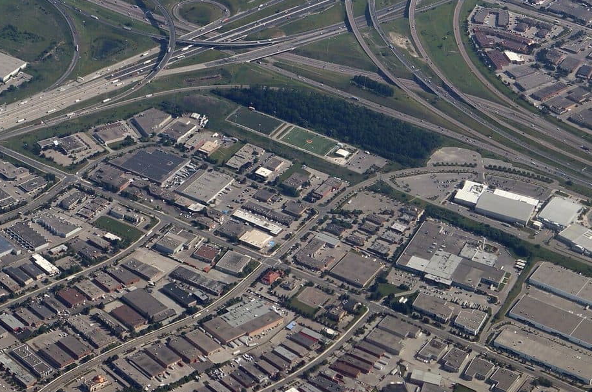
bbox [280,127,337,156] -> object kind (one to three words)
sports field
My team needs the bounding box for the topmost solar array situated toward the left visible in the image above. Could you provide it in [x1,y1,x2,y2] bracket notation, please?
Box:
[122,150,184,179]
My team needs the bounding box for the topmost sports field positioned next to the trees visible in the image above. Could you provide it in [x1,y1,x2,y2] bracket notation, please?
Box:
[227,107,284,134]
